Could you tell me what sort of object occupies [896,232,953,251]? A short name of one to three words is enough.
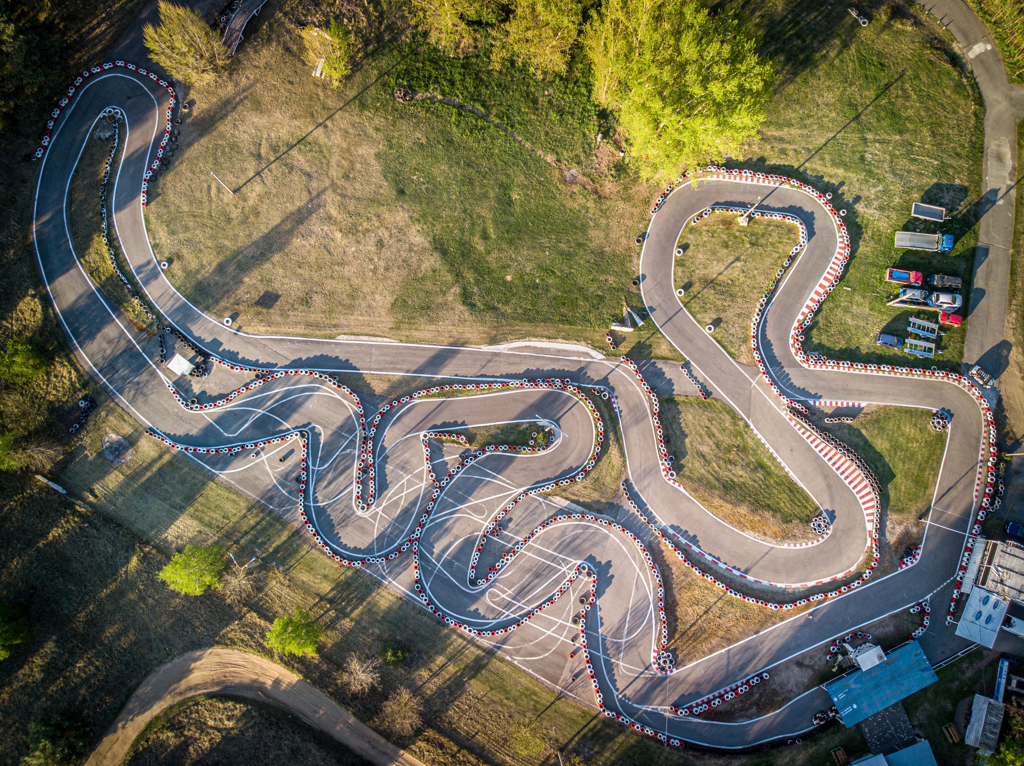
vehicle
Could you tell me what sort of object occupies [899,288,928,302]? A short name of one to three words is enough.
car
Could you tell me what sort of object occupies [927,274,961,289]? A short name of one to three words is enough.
car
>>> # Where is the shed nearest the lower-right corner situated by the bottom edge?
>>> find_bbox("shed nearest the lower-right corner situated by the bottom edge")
[960,694,1005,750]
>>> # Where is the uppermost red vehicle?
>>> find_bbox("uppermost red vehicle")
[888,269,922,285]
